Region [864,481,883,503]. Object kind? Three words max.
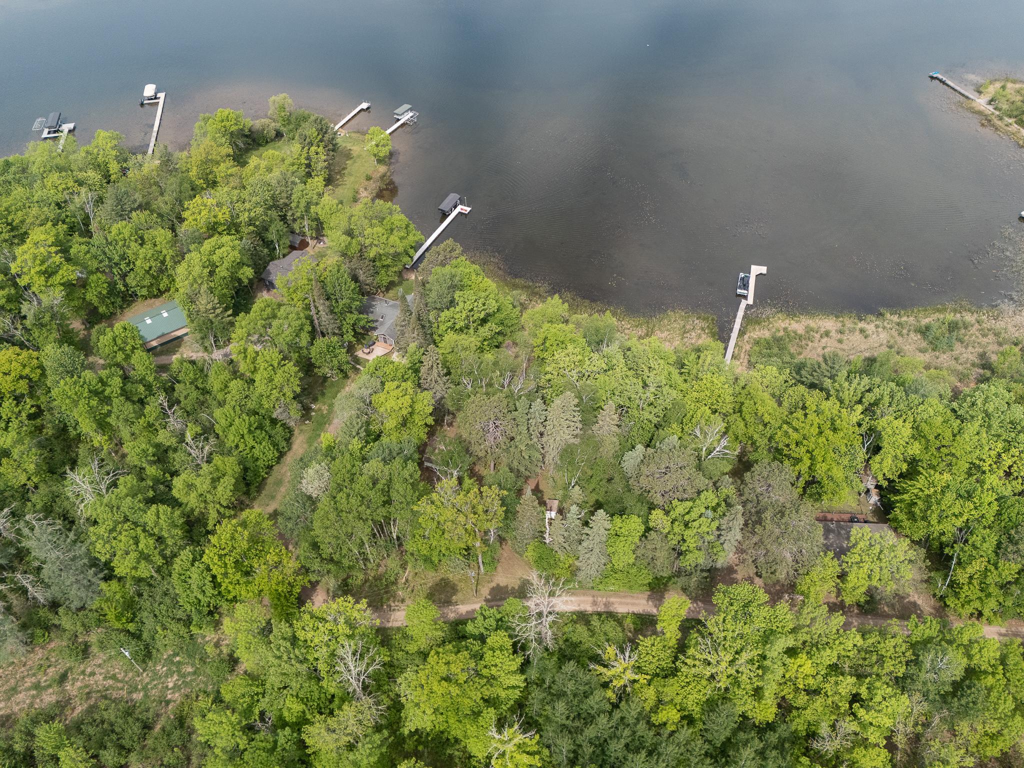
shed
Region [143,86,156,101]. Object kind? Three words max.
boat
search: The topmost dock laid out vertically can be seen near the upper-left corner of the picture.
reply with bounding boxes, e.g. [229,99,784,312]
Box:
[144,92,166,143]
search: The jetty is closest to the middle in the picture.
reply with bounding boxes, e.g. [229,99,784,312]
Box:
[406,204,472,268]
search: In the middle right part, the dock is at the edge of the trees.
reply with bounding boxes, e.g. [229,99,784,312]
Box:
[727,264,767,361]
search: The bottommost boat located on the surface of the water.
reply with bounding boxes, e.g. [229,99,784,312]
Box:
[735,273,750,296]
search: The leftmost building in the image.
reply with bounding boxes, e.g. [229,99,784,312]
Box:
[129,301,190,352]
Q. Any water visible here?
Yes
